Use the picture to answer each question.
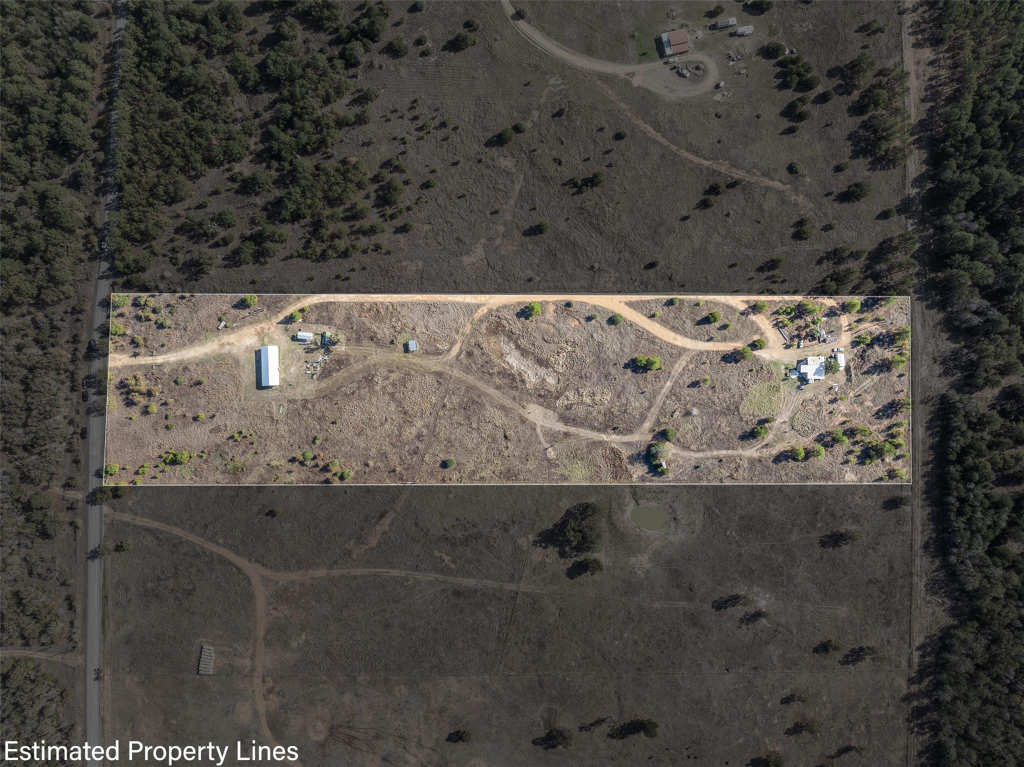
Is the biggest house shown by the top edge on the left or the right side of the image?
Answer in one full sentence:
You can find the biggest house shown by the top edge on the right side of the picture.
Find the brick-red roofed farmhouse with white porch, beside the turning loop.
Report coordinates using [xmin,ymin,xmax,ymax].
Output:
[660,29,689,58]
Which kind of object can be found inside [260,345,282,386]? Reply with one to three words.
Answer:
barn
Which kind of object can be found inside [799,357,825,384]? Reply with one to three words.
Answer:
house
